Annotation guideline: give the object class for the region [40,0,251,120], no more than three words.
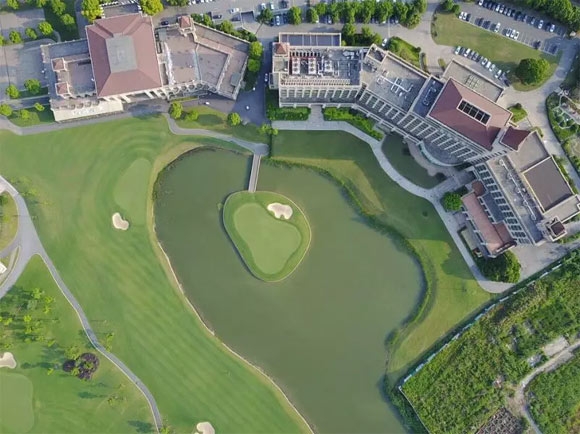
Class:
building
